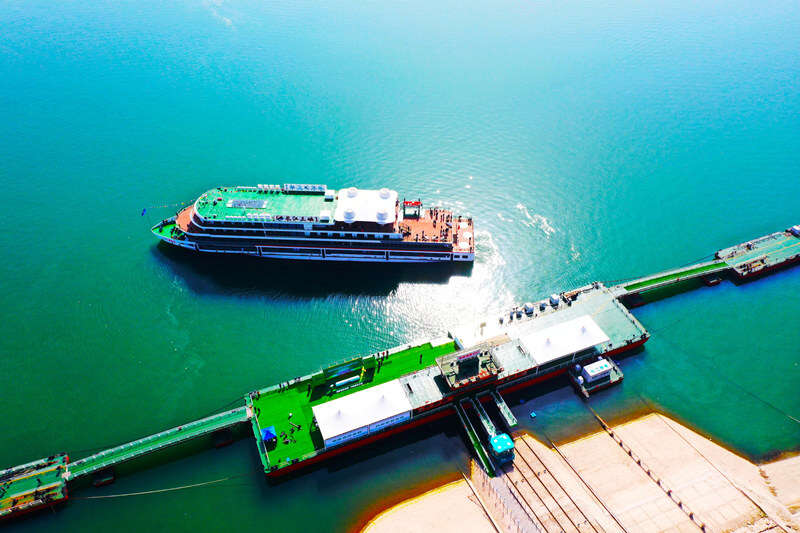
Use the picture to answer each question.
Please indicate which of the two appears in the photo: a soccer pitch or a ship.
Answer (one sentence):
There is a ship in the scene.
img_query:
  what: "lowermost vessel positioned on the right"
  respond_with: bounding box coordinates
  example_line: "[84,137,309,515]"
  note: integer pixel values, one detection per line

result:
[569,357,627,406]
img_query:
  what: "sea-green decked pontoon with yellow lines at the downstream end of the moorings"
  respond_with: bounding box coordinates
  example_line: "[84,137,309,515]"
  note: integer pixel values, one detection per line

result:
[714,227,800,281]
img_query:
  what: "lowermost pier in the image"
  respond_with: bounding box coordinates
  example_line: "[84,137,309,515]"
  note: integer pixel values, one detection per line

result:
[0,453,70,518]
